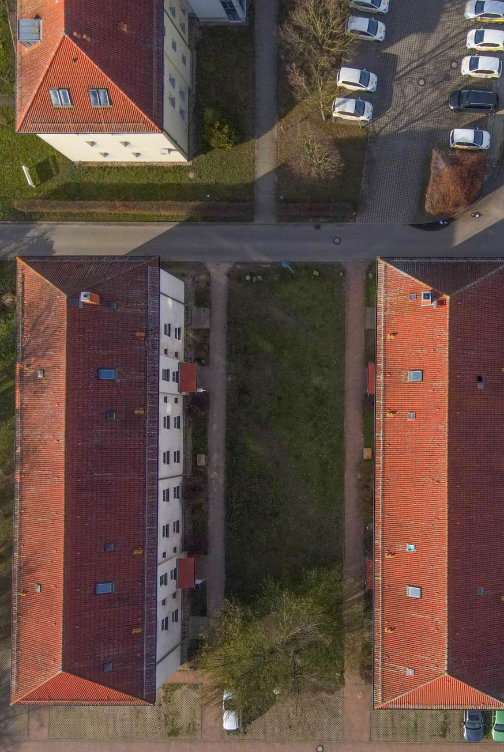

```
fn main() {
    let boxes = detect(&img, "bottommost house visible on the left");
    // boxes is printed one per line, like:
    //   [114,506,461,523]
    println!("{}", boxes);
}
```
[9,255,201,707]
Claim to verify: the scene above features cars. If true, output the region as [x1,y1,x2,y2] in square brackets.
[466,27,504,54]
[462,711,485,747]
[466,0,504,25]
[491,711,504,747]
[449,88,498,115]
[345,16,386,43]
[337,68,379,94]
[332,97,373,123]
[218,687,242,734]
[450,126,490,150]
[461,54,502,80]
